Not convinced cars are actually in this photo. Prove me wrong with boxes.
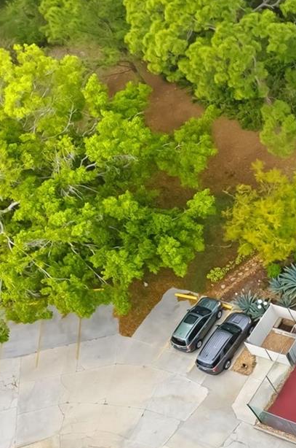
[192,310,255,375]
[166,295,224,355]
